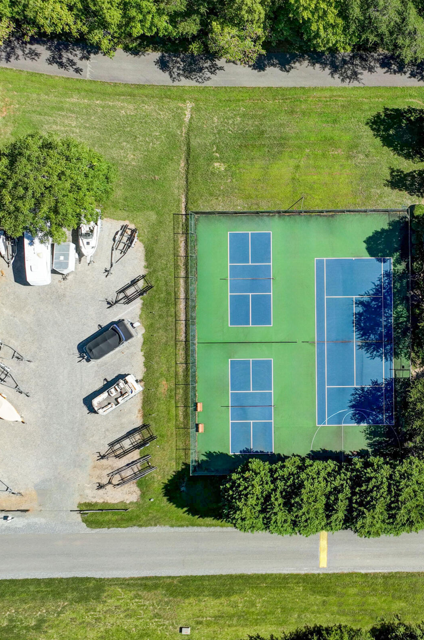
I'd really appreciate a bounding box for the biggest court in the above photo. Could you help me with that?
[196,213,411,476]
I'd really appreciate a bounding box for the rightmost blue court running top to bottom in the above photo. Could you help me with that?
[315,257,395,426]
